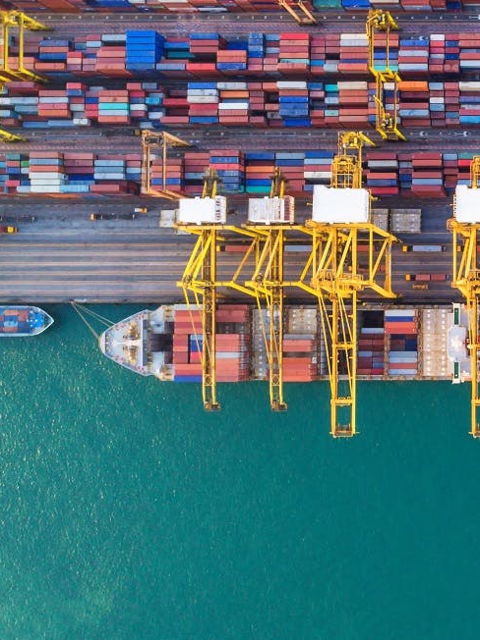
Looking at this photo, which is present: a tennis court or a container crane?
container crane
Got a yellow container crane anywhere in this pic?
Yes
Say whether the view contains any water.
Yes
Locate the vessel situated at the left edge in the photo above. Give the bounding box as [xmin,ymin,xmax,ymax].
[0,305,58,336]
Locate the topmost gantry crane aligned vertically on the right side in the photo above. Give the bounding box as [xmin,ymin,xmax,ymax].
[368,7,404,82]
